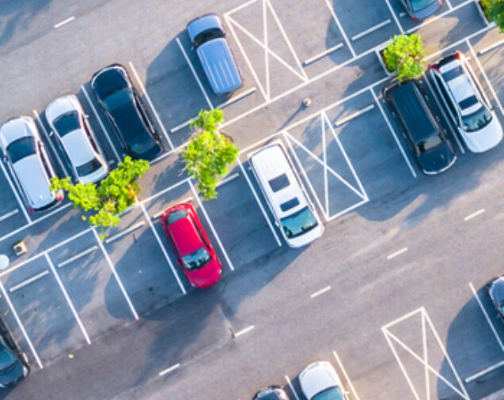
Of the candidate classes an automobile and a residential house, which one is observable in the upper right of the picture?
automobile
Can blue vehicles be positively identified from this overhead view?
Yes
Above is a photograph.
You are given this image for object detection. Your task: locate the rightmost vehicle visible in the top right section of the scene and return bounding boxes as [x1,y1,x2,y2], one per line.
[430,52,504,156]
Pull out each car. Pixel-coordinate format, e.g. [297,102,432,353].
[384,75,459,179]
[0,116,64,212]
[44,94,110,185]
[300,359,350,400]
[161,200,226,290]
[92,63,162,165]
[430,52,504,156]
[248,138,326,251]
[186,11,246,96]
[0,302,31,390]
[399,0,443,24]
